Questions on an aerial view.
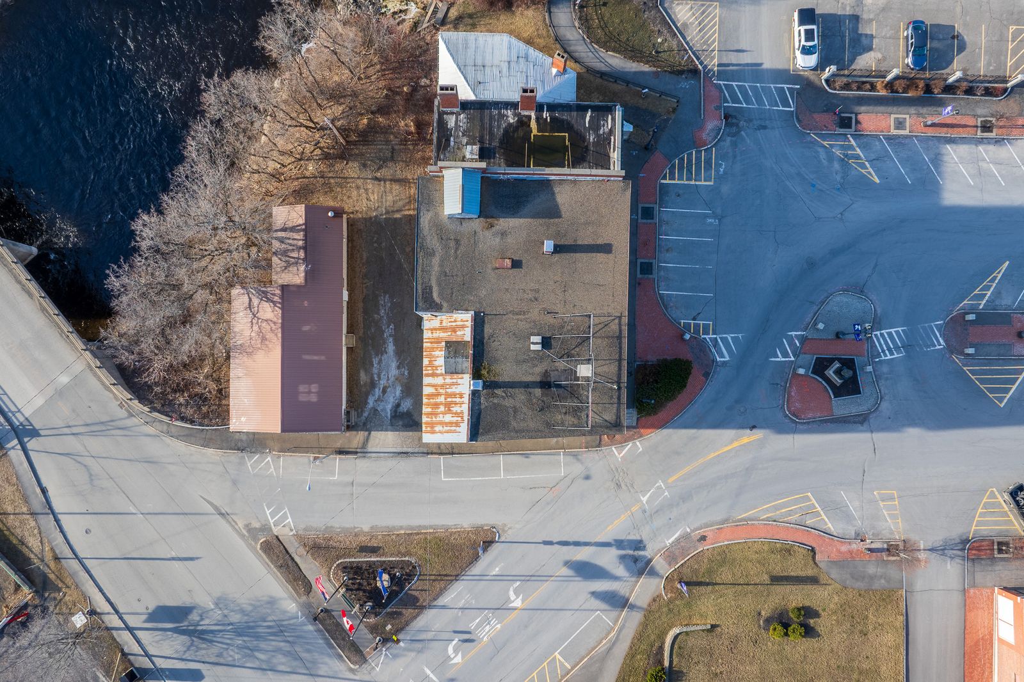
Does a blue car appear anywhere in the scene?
Yes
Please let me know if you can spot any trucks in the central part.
No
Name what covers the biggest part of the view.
paved ground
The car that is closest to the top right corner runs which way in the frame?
from top to bottom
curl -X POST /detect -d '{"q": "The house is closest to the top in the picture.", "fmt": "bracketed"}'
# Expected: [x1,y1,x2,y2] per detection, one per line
[438,31,577,103]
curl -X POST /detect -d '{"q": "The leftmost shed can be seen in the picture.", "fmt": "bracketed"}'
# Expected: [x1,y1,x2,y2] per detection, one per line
[229,204,353,434]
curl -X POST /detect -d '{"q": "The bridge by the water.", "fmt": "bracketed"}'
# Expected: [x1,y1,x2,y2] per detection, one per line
[0,230,231,433]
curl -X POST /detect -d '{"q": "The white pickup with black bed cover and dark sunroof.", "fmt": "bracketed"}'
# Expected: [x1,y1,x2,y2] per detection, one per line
[793,9,823,71]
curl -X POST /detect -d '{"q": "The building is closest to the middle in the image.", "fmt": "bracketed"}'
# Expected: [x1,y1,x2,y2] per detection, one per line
[414,162,631,443]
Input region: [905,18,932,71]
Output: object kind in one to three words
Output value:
car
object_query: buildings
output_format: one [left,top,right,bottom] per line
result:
[229,204,353,434]
[414,162,631,443]
[438,31,577,103]
[994,587,1024,682]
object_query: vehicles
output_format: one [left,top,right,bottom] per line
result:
[1006,479,1024,520]
[793,9,823,71]
[905,18,932,71]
